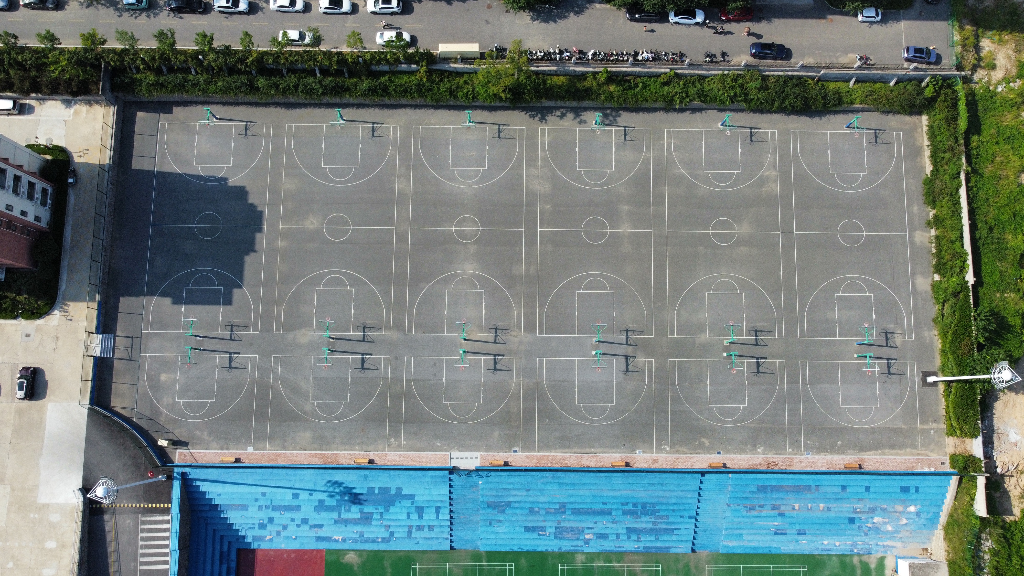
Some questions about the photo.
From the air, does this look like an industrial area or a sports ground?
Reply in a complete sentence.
This image shows a sports ground.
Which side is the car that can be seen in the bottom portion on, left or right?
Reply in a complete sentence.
The car that can be seen in the bottom portion sits on the left side.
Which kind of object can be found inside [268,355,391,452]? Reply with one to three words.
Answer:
basketball court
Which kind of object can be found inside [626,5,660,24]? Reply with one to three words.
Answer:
car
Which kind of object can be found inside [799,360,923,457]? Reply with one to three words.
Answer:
basketball court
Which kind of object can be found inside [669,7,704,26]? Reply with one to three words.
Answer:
car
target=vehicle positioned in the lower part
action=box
[15,366,37,401]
